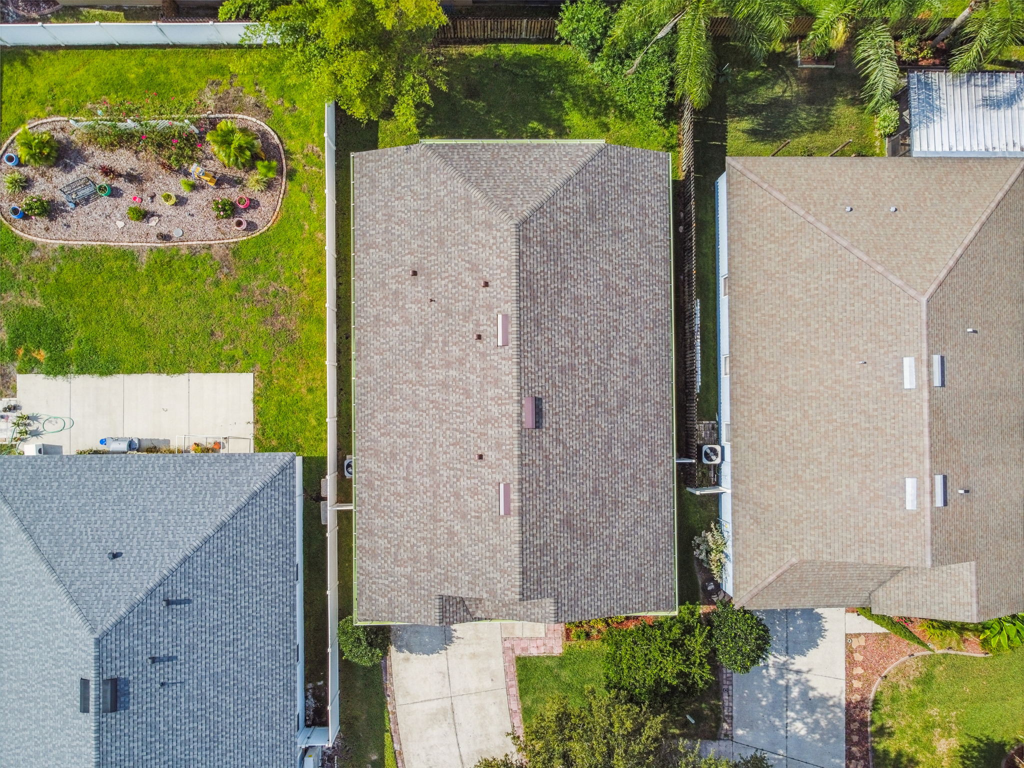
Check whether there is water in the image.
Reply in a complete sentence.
No, the scene doesn't show any water.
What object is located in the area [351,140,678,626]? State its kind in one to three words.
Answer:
house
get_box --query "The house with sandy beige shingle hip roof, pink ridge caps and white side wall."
[718,155,1024,622]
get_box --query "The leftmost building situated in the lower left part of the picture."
[0,450,305,768]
